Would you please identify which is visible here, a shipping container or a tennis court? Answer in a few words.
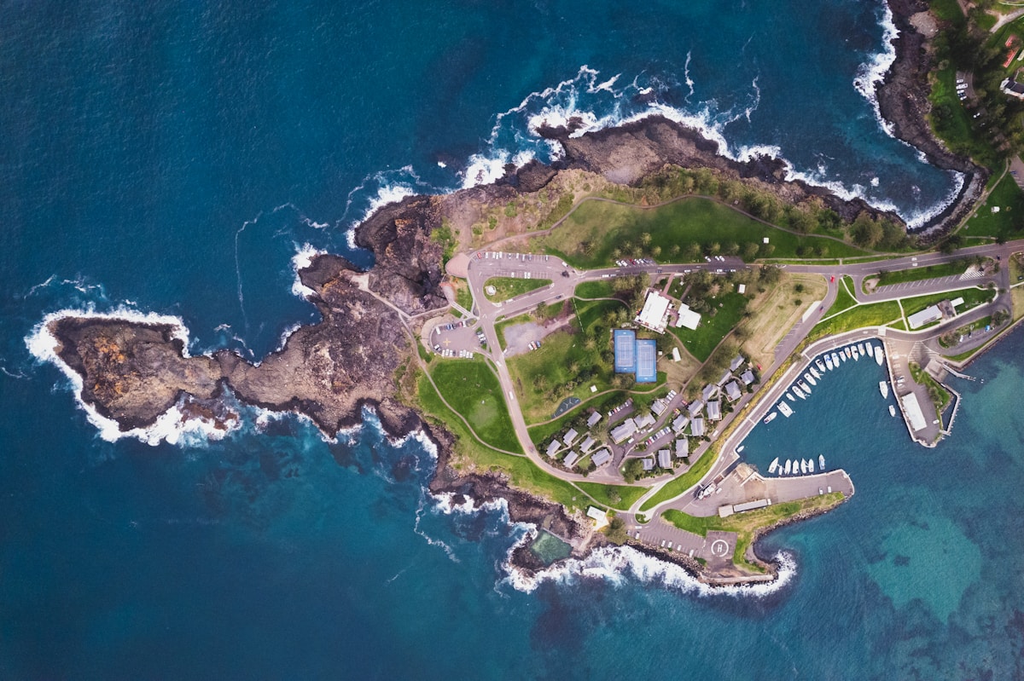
tennis court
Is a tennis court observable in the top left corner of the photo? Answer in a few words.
No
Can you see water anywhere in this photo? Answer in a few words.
Yes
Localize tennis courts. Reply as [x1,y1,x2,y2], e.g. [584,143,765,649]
[614,329,636,373]
[636,339,657,383]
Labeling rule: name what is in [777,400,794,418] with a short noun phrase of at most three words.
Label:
boat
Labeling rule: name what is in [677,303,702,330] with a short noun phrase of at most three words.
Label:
building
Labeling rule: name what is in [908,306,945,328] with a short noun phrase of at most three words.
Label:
building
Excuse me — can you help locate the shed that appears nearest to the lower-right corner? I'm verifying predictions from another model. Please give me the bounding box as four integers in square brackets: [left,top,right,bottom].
[903,394,929,431]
